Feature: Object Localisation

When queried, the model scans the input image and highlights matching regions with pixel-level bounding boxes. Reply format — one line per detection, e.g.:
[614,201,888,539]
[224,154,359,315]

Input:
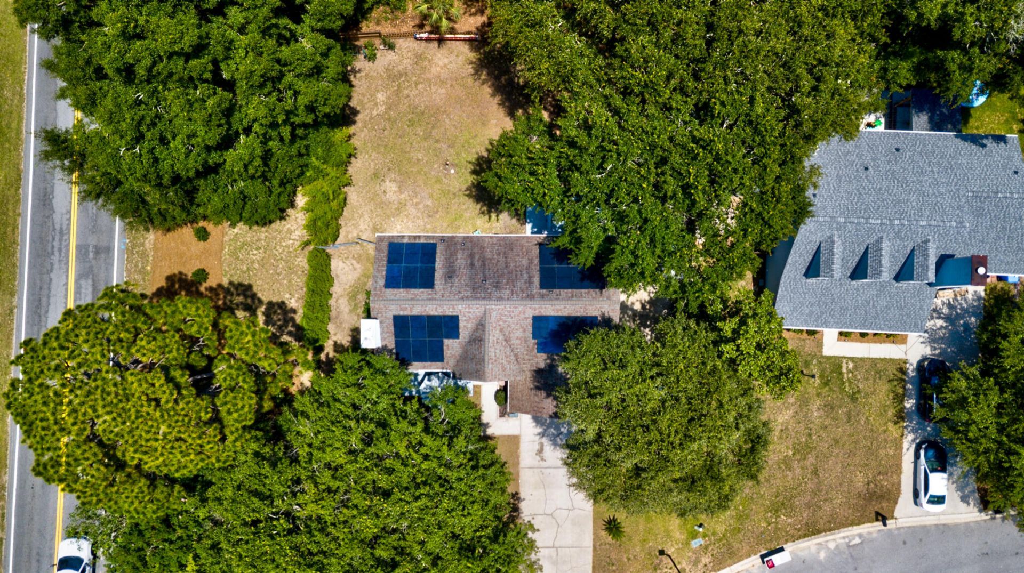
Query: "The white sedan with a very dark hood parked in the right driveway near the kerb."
[911,439,950,513]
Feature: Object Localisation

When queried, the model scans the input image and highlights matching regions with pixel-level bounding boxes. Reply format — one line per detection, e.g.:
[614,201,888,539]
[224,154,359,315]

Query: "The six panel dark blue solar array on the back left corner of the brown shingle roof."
[385,242,437,288]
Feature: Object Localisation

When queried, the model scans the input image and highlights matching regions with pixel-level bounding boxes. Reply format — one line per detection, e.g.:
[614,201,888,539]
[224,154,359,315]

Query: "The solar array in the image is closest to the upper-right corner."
[539,243,606,289]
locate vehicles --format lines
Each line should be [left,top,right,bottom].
[911,439,950,513]
[916,355,950,422]
[57,534,96,573]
